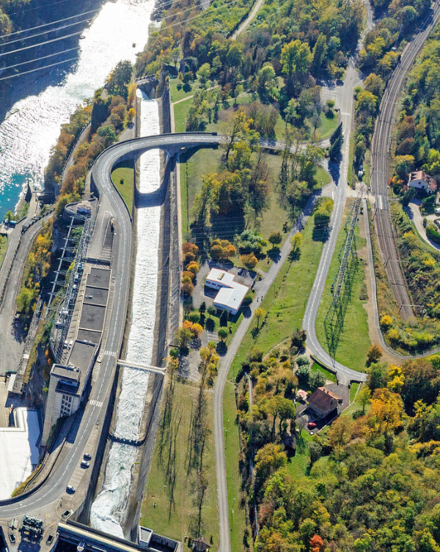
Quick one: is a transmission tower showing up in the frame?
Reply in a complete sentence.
Yes, you can see a transmission tower in this photo.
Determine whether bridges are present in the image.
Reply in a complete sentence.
Yes, a bridge appears in the view.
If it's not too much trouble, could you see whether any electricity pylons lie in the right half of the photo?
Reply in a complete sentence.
Yes, an electricity pylon shows up in the right half of the photo.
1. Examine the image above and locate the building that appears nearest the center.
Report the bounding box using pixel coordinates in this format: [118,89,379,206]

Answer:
[205,268,250,314]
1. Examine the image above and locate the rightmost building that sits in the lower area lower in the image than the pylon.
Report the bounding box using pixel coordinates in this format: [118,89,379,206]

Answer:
[306,389,341,420]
